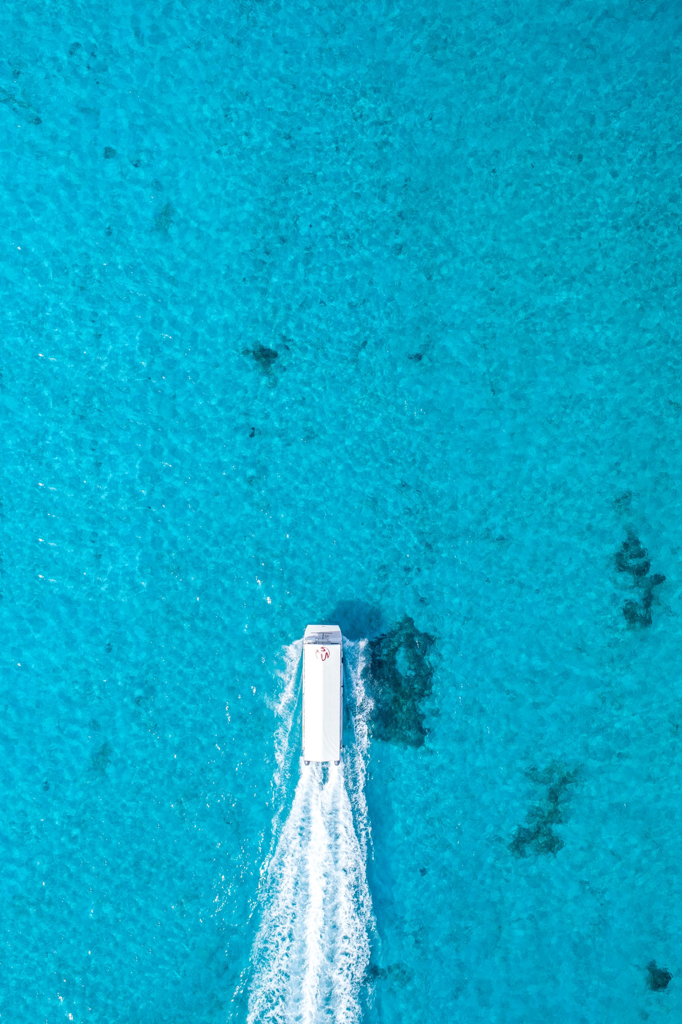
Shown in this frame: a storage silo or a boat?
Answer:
boat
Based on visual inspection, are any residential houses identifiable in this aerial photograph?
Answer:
No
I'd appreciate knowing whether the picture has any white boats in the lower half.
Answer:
Yes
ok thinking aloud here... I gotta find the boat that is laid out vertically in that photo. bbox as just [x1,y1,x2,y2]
[303,624,343,766]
